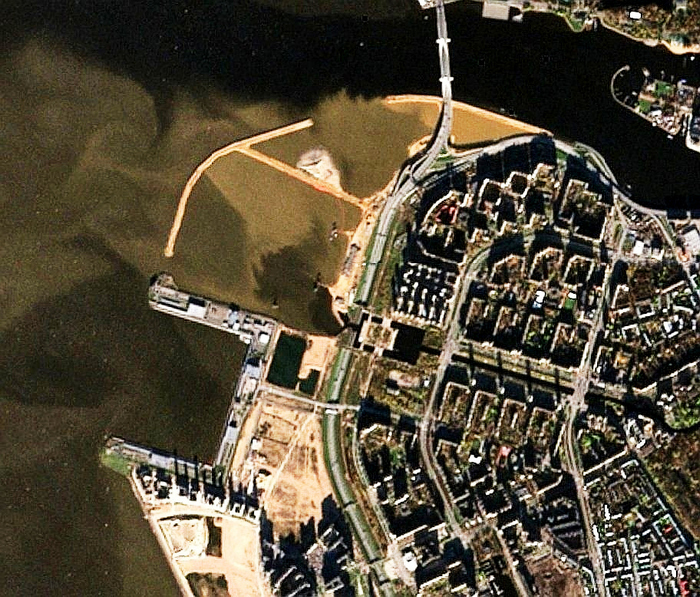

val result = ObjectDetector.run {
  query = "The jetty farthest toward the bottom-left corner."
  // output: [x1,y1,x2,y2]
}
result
[101,436,216,477]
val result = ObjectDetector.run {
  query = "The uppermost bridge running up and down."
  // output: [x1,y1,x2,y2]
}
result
[394,0,455,201]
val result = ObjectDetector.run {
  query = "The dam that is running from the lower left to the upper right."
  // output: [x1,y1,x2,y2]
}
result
[166,118,313,256]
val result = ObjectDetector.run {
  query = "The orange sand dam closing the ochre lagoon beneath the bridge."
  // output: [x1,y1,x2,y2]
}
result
[388,94,549,133]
